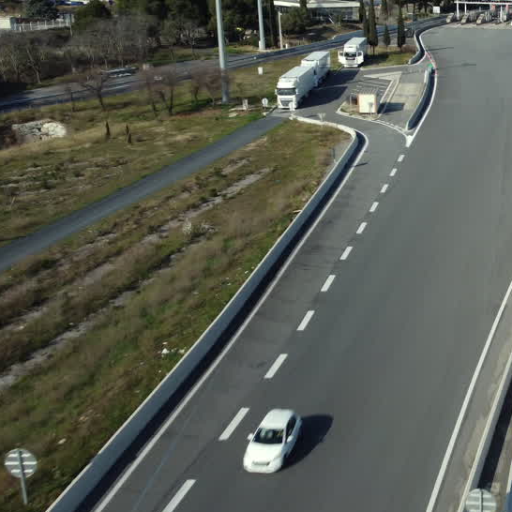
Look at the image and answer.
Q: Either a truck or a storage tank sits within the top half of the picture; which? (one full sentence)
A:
What appears within the top half of the picture is a truck.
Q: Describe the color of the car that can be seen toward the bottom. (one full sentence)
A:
In this view, the car that can be seen toward the bottom is white.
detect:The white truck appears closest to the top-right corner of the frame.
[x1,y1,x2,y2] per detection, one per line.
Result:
[339,40,364,66]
